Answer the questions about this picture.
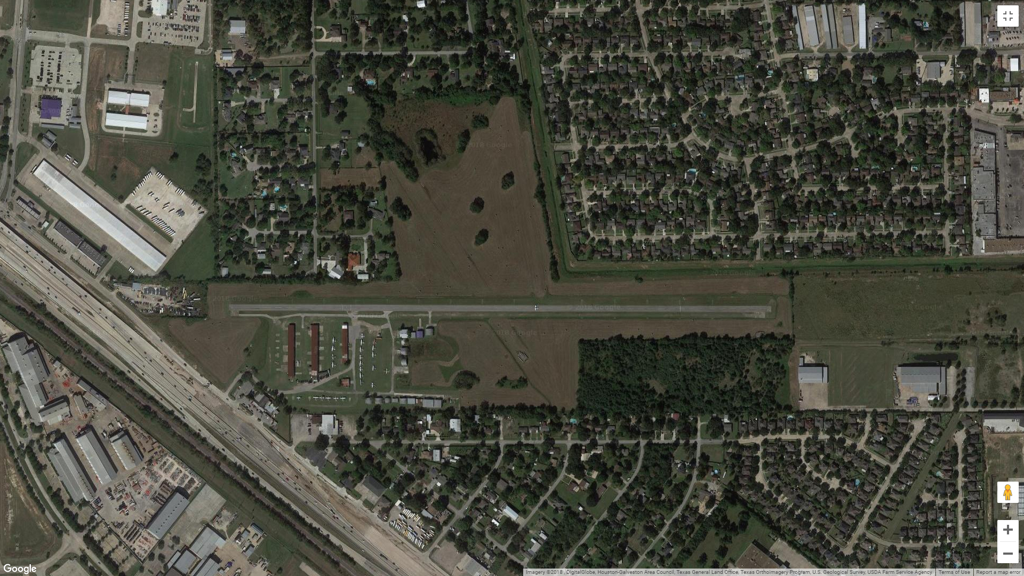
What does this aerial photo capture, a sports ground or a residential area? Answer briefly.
residential area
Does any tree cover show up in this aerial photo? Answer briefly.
Yes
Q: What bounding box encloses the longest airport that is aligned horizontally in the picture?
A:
[229,304,771,402]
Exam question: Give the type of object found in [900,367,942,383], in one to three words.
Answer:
hangar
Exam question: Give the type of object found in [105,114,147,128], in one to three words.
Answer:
barn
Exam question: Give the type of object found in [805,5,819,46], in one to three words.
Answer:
shed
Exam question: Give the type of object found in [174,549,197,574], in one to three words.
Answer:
building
